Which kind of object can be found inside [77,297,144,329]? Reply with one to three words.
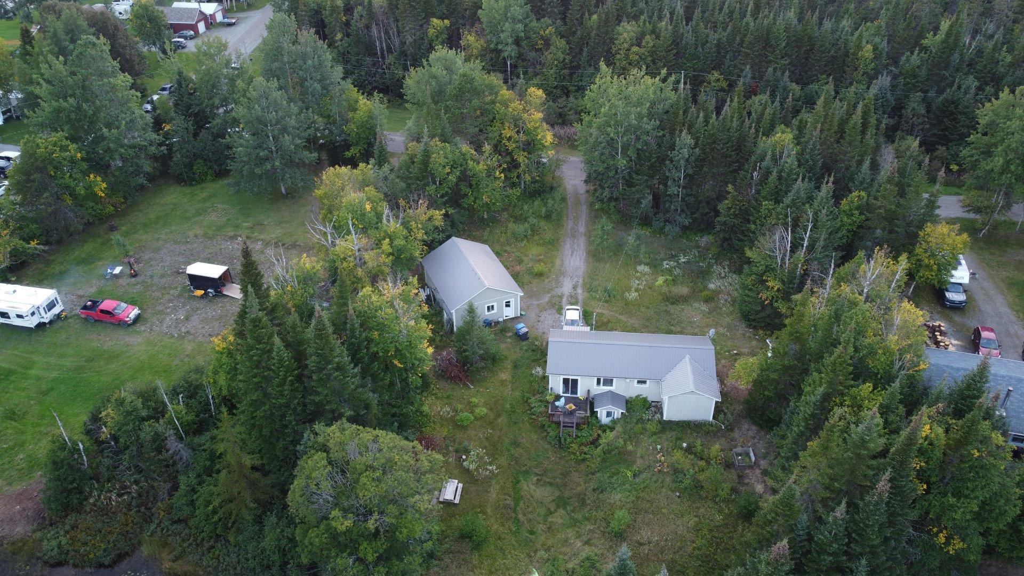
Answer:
truck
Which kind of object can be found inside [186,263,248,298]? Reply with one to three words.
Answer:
trailer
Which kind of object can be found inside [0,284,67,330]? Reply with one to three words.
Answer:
trailer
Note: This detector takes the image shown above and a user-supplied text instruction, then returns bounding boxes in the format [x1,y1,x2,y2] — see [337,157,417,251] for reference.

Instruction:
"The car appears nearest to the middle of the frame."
[564,306,589,328]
